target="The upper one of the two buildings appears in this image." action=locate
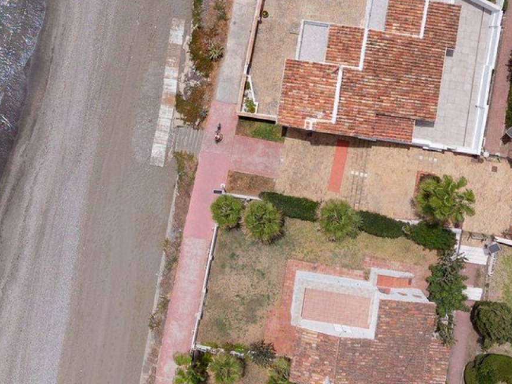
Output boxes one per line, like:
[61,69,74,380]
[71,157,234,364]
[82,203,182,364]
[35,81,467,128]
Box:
[277,0,462,143]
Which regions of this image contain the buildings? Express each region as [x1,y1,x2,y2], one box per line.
[288,265,451,384]
[277,0,462,143]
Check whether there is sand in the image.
Yes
